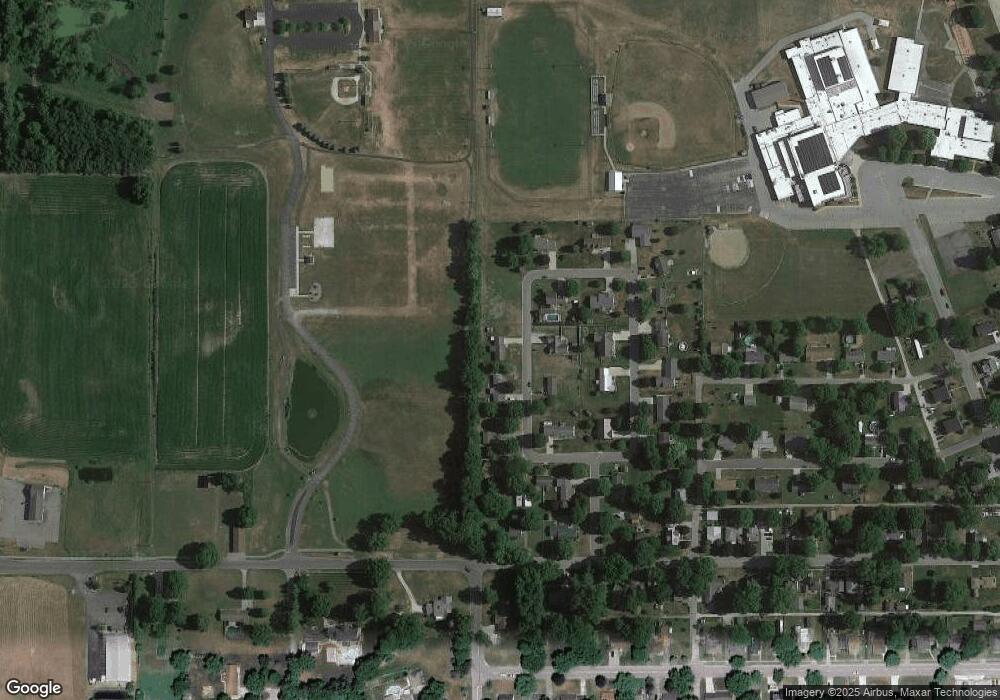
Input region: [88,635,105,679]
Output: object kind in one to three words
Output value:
barn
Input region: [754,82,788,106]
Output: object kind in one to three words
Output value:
shed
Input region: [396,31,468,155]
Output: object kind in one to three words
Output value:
sports field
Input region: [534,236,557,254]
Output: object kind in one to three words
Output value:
house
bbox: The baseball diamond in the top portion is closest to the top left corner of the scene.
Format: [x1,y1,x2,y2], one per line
[277,69,362,143]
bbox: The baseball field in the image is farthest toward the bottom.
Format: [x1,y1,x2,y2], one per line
[704,228,790,306]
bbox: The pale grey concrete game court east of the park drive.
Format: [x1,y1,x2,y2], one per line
[313,218,334,248]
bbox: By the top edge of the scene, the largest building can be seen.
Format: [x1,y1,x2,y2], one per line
[757,28,994,206]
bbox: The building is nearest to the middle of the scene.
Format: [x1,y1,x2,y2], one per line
[491,337,506,359]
